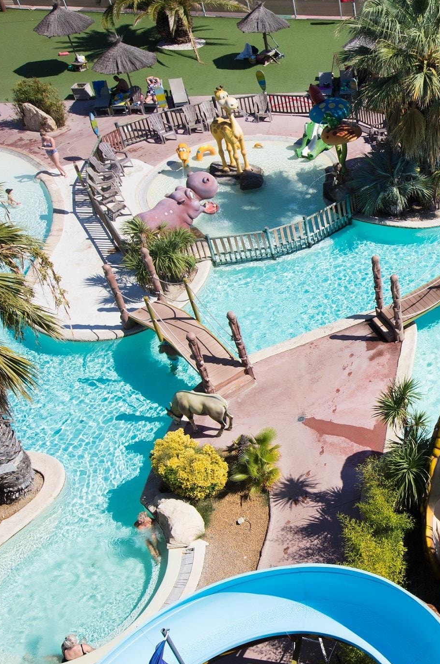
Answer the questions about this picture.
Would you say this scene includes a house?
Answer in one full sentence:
No, there appears to be no house in this shot.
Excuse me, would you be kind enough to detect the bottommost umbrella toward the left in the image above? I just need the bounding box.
[88,29,160,87]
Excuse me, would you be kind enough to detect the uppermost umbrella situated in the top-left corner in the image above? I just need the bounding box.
[26,1,95,57]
